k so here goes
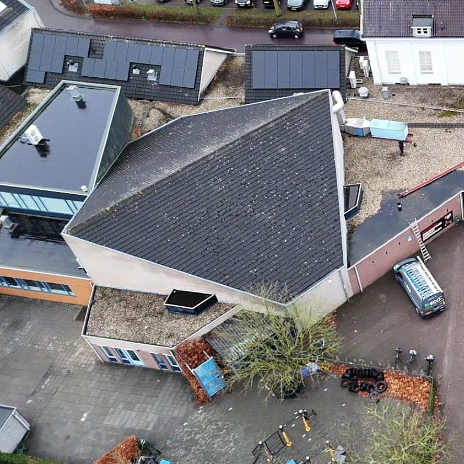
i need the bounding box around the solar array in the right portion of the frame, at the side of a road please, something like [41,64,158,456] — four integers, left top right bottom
[249,51,340,88]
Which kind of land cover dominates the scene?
buildings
